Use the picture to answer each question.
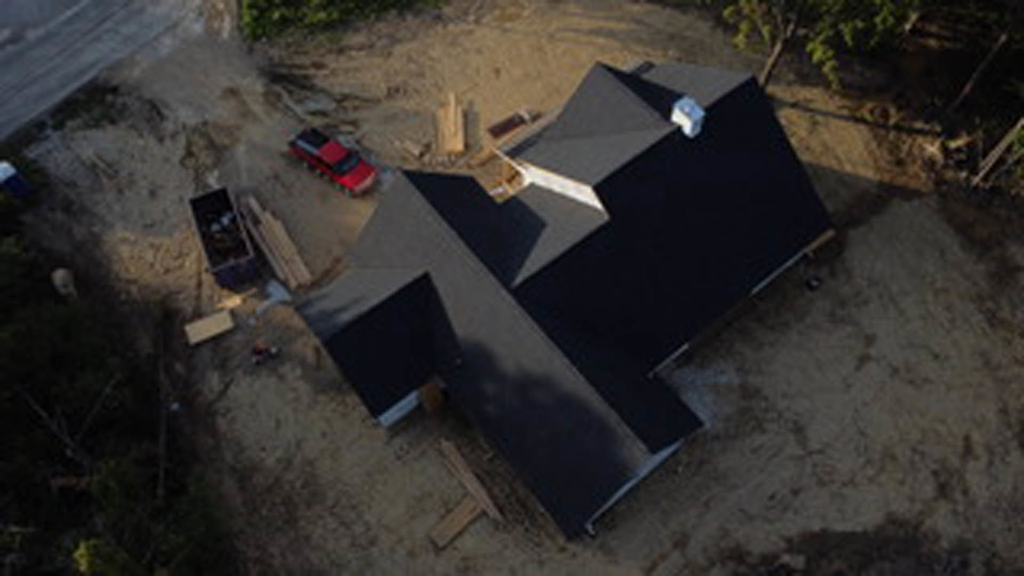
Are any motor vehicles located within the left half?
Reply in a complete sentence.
Yes, looking within the left half, one can make out a motor vehicle.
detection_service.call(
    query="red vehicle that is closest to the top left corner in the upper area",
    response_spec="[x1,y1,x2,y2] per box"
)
[286,124,380,199]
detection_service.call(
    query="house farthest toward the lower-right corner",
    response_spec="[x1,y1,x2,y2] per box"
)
[295,62,840,540]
